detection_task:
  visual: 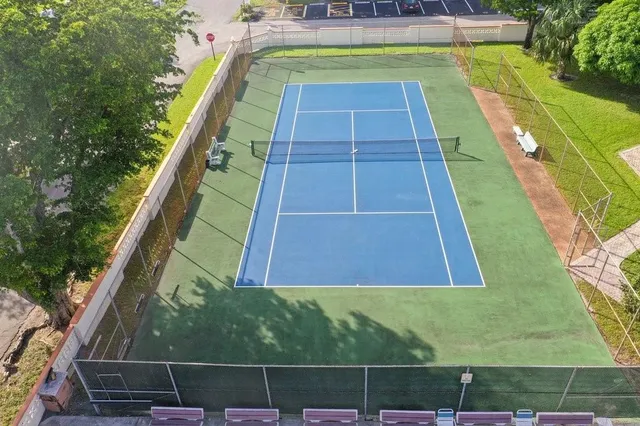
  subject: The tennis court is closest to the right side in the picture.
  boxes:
[124,54,615,367]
